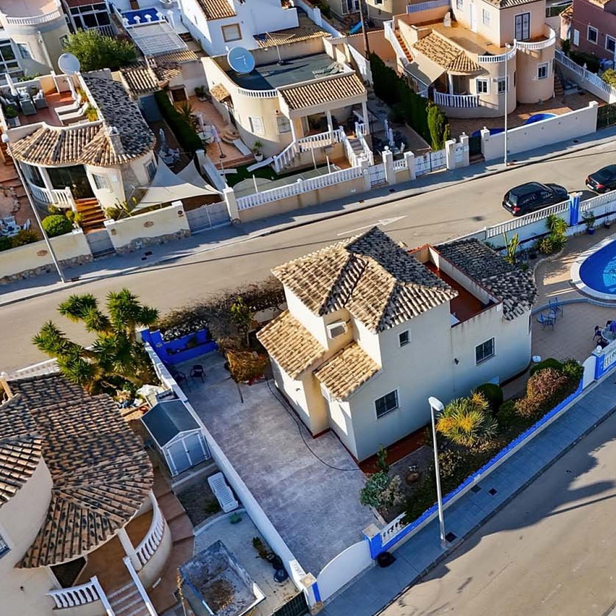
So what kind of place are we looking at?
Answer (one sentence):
This image shows a residential area.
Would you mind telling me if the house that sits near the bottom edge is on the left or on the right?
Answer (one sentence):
The house that sits near the bottom edge sits on the left side.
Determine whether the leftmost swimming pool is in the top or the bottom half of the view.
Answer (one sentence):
Seen from above, the leftmost swimming pool lies in the top half of the view.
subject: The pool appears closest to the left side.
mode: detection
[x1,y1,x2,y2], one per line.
[118,8,163,29]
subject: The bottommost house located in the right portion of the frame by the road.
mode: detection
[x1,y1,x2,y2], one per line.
[258,224,543,465]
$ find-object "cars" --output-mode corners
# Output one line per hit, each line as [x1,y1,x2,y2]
[585,161,616,193]
[500,180,572,220]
